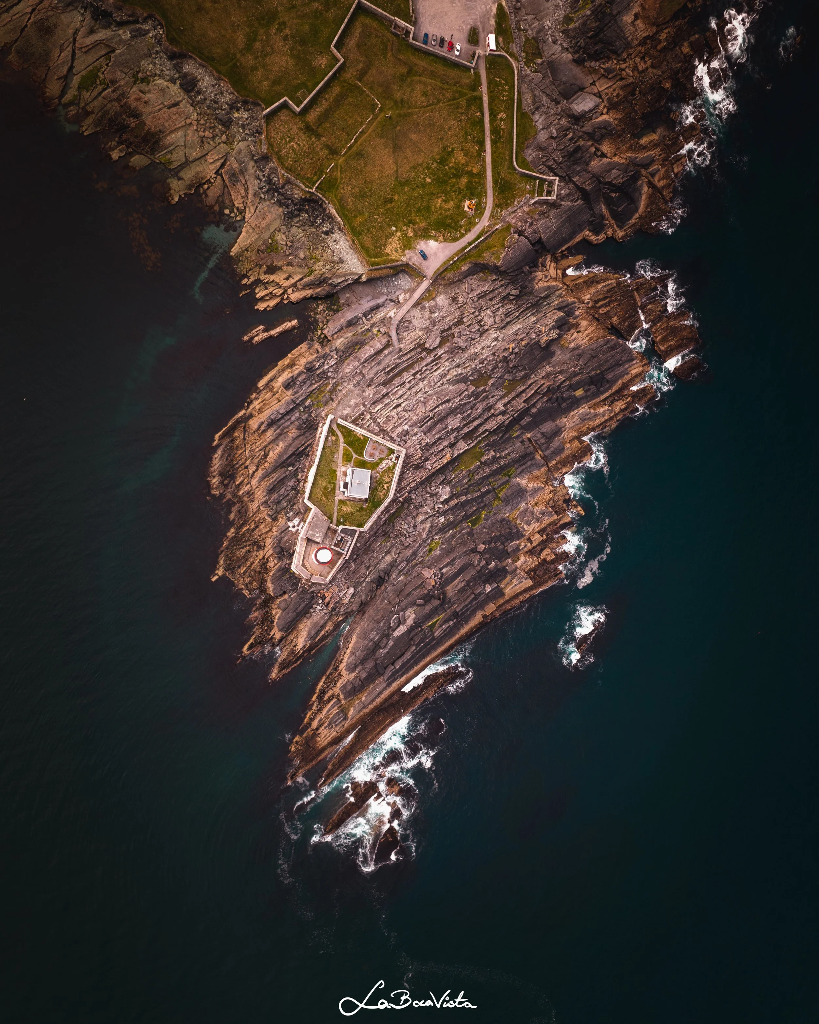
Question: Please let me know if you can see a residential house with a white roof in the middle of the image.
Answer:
Yes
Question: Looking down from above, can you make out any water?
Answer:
Yes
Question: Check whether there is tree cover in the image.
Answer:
No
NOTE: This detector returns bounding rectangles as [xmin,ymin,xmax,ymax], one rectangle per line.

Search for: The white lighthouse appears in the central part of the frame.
[312,545,333,566]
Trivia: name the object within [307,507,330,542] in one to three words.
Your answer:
building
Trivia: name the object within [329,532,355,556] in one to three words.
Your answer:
building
